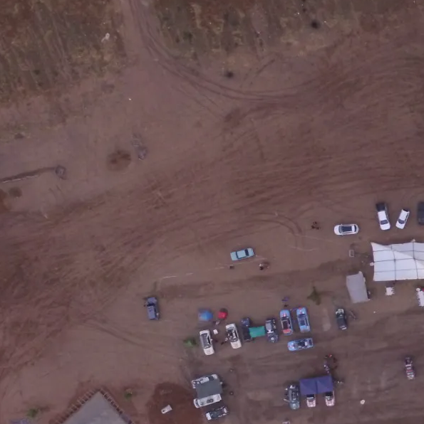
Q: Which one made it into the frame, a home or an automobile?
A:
automobile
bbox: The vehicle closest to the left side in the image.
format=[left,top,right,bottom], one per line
[145,296,159,321]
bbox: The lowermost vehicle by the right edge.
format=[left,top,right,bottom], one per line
[403,356,417,379]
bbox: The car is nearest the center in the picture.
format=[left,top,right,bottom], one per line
[230,247,256,262]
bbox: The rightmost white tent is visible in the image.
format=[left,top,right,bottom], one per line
[369,238,424,284]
